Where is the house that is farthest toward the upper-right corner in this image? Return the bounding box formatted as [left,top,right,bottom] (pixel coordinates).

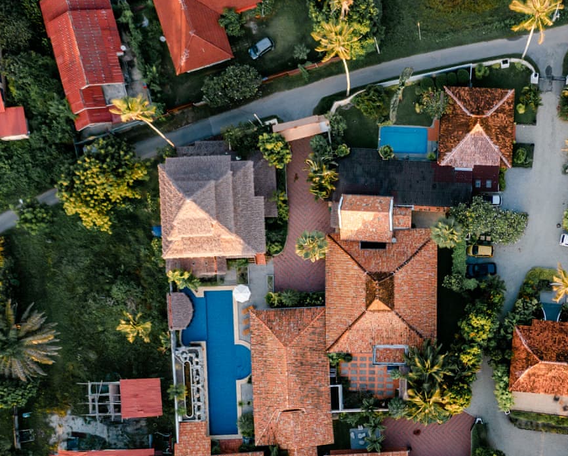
[439,85,515,169]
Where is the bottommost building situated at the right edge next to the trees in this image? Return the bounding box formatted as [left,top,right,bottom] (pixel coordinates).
[510,320,568,416]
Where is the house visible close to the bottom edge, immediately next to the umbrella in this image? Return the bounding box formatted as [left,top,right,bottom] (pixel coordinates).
[249,306,333,456]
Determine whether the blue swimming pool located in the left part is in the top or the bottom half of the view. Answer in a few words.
bottom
